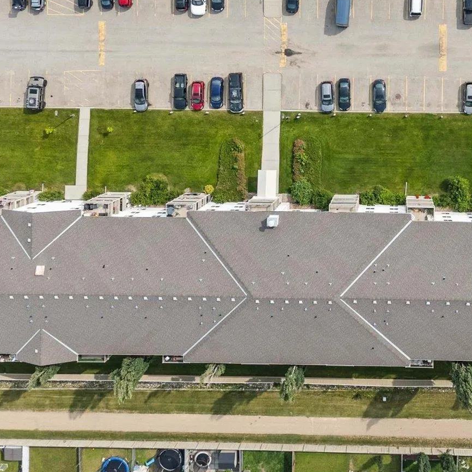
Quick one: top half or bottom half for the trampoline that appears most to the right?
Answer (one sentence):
The trampoline that appears most to the right sits in the bottom half of the picture.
